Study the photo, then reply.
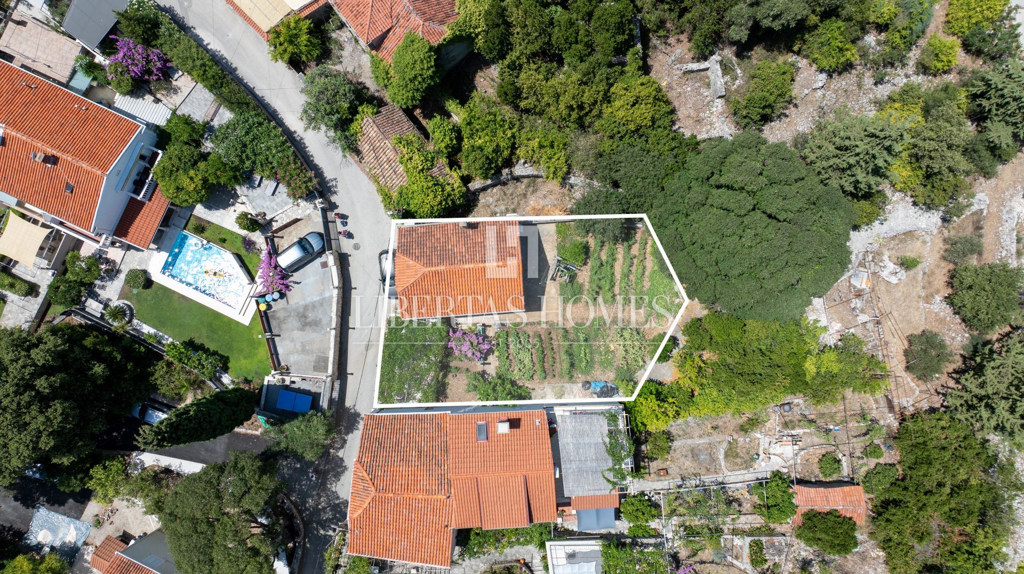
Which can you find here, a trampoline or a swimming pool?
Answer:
swimming pool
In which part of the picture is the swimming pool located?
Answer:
left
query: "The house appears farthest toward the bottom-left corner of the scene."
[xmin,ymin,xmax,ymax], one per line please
[90,529,181,574]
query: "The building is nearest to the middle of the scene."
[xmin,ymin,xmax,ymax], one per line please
[393,219,528,321]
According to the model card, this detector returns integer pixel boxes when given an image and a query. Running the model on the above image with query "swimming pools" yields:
[159,229,256,316]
